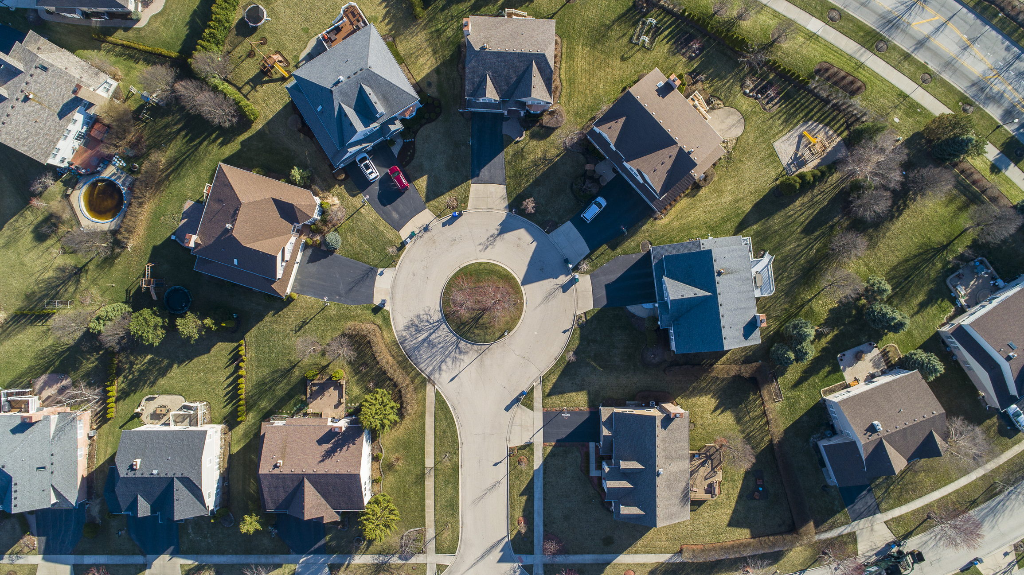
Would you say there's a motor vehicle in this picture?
Yes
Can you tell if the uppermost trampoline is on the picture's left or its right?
left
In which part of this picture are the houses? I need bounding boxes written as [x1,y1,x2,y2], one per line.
[817,368,950,489]
[257,415,370,523]
[650,235,768,354]
[599,403,691,528]
[35,0,148,17]
[586,67,726,214]
[0,29,116,168]
[103,428,217,524]
[938,276,1024,412]
[462,15,556,114]
[0,406,91,514]
[183,162,321,299]
[285,22,420,168]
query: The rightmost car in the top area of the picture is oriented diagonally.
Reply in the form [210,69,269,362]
[581,194,606,225]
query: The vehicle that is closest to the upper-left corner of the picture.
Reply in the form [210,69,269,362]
[355,151,379,184]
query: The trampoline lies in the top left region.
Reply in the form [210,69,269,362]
[240,0,270,26]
